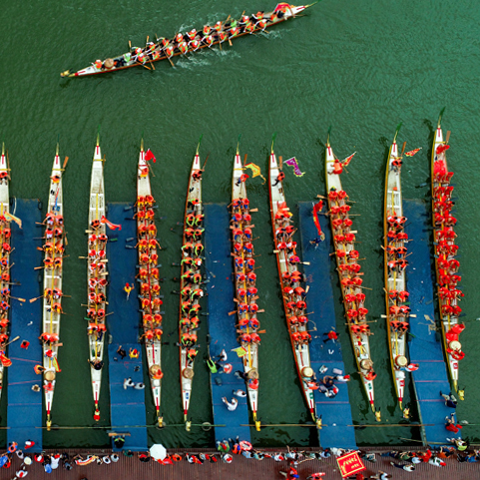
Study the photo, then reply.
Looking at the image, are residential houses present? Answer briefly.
No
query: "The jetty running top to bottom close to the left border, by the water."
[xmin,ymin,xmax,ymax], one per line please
[7,198,42,454]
